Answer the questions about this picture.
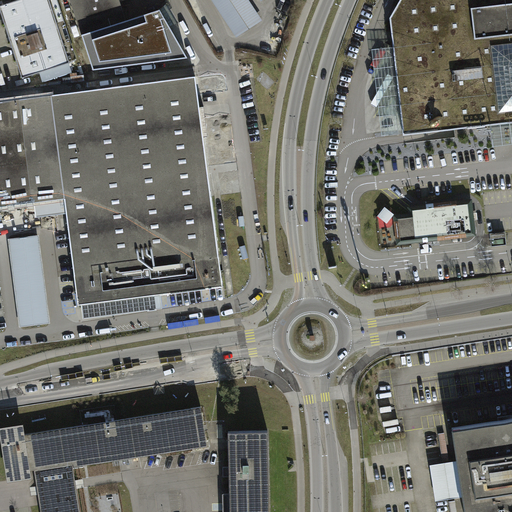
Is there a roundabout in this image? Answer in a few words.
Yes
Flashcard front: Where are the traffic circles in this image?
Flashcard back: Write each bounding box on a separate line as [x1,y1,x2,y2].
[273,298,352,376]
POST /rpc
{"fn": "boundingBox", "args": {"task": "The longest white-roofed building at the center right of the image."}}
[394,200,476,246]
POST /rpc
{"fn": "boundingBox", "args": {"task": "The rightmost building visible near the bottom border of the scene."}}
[449,417,512,512]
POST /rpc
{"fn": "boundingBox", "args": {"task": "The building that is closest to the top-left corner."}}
[0,0,70,78]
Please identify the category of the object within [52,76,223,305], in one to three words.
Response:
building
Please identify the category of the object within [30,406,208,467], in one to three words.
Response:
building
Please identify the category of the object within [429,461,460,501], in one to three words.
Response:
shed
